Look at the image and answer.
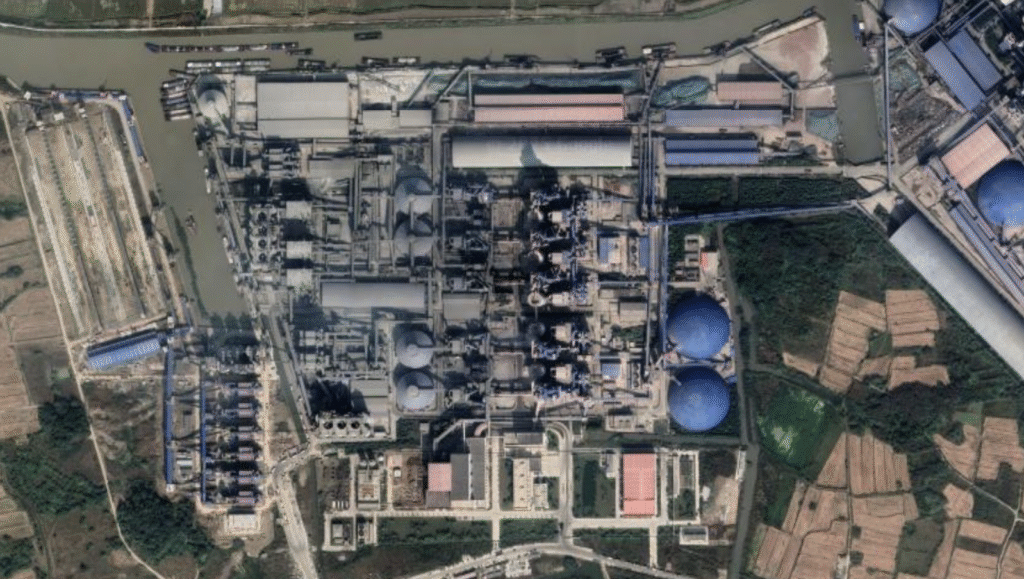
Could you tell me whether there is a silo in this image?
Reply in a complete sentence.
Yes, a silo is visible in the scene.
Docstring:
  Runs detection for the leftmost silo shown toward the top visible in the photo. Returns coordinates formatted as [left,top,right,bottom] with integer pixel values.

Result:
[199,85,229,115]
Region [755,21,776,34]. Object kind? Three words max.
ship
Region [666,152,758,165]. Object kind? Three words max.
building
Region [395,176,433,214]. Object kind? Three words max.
silo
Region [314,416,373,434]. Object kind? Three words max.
cooling tower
